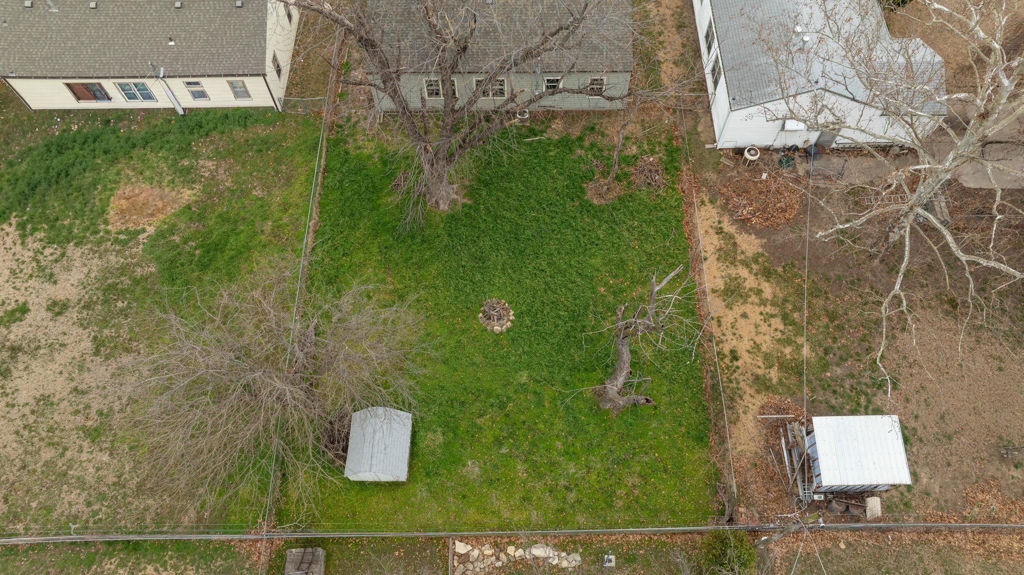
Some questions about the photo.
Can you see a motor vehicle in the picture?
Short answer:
No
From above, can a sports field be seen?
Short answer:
No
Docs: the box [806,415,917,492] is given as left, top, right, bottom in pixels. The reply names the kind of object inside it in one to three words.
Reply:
shed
